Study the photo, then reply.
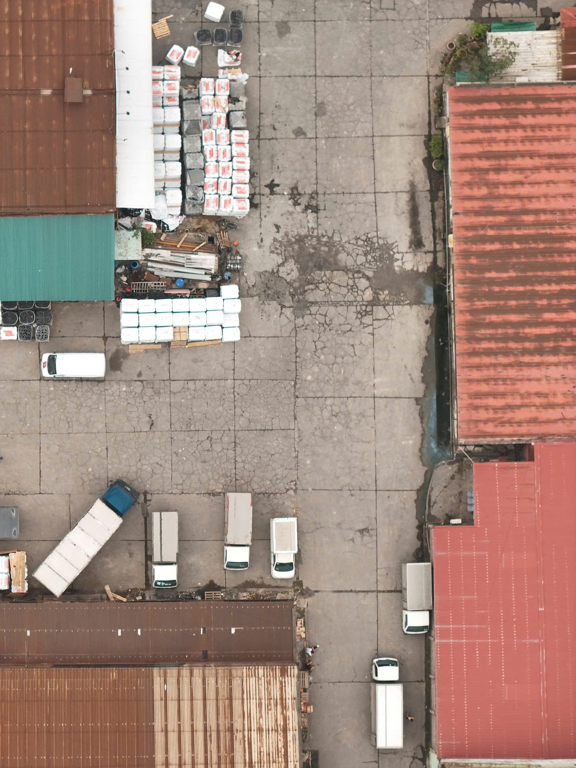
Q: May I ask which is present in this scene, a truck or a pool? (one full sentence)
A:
The image shows a truck.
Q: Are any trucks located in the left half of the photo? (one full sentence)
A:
Yes, looking in the left half of the photo, one can make out a truck.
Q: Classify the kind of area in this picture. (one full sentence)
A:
The picture captures an industrial area.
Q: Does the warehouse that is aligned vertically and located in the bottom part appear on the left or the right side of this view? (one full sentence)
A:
The warehouse that is aligned vertically and located in the bottom part sits on the right side.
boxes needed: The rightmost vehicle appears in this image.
[399,561,433,633]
